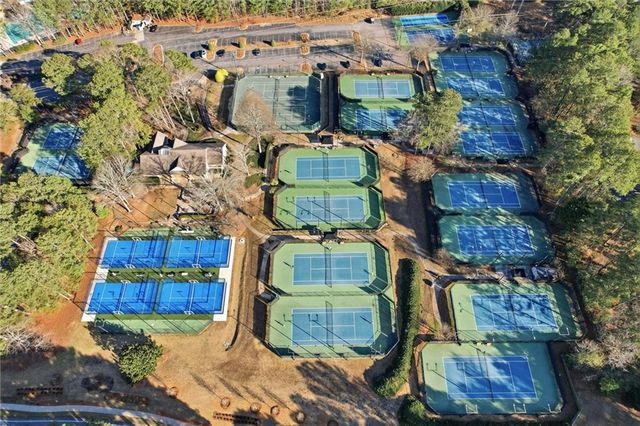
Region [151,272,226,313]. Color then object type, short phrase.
blue sports court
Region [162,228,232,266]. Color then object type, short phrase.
blue sports court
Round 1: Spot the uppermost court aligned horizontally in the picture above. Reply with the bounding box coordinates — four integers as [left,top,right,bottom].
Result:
[391,11,461,29]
